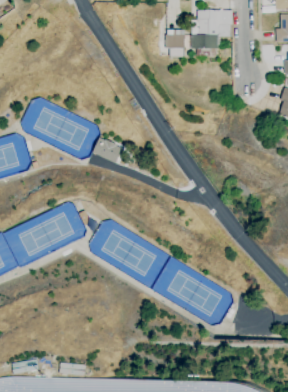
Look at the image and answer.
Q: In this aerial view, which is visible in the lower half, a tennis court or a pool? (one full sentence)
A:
What appears in the lower half is a tennis court.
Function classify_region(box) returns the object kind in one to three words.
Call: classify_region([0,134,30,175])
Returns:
tennis court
